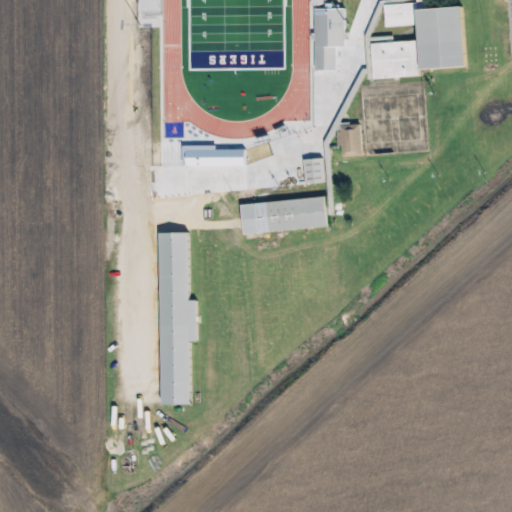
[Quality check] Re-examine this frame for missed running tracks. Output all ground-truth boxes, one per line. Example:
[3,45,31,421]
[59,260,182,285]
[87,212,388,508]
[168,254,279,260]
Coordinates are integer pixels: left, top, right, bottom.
[165,0,310,140]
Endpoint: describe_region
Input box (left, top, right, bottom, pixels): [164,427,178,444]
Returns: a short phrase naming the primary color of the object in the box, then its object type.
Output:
white vehicle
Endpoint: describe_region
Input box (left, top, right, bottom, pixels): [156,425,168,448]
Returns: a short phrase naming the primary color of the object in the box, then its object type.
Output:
white vehicle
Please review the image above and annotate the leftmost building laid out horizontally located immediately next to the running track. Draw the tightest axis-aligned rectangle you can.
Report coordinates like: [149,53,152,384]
[184,150,247,166]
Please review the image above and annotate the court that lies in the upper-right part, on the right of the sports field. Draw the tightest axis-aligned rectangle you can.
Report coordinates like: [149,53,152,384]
[362,82,429,154]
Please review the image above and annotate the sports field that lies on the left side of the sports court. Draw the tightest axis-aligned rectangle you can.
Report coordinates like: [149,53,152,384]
[182,0,292,122]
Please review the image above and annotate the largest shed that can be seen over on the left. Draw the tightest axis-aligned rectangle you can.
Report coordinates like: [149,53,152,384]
[158,232,198,404]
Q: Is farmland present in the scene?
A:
Yes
